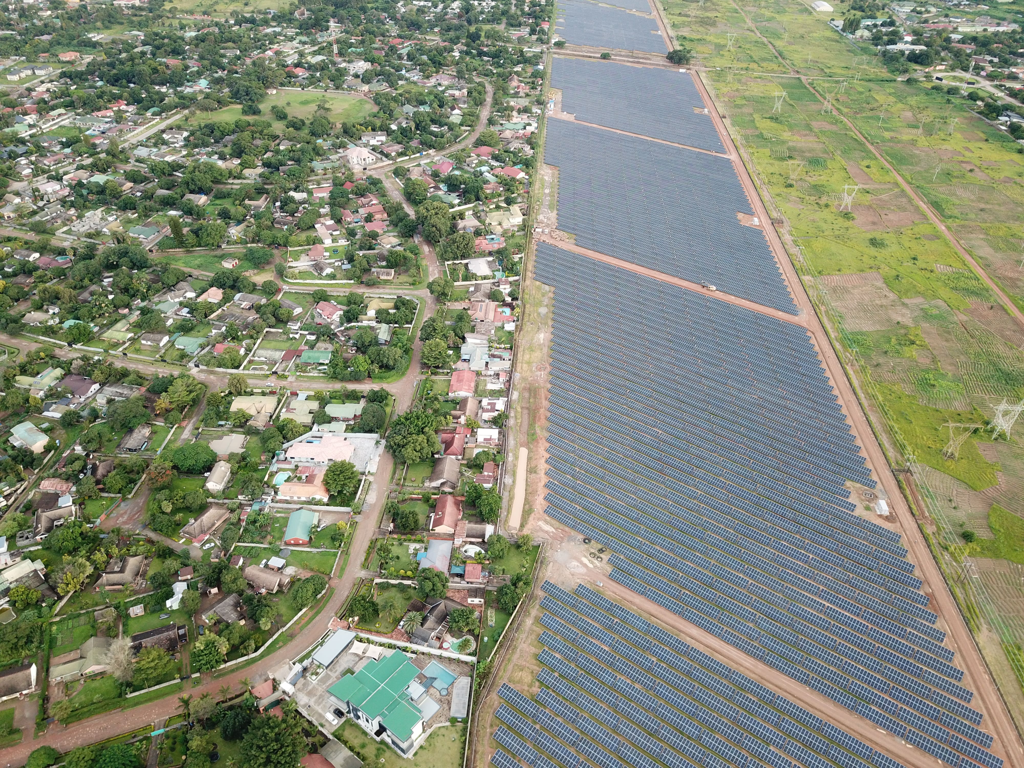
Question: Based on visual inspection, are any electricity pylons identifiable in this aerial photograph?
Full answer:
Yes, the image includes an electricity pylon.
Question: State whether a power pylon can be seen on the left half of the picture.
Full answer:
No, no power pylon is visible on the left half of the picture.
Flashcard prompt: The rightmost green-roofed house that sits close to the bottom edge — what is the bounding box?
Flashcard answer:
[326,649,441,756]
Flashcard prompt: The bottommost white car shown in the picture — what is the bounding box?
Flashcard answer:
[324,711,339,726]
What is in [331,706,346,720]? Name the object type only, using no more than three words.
car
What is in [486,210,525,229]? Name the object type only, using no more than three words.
house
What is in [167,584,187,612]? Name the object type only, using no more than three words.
shed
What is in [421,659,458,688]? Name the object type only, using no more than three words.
swimming pool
